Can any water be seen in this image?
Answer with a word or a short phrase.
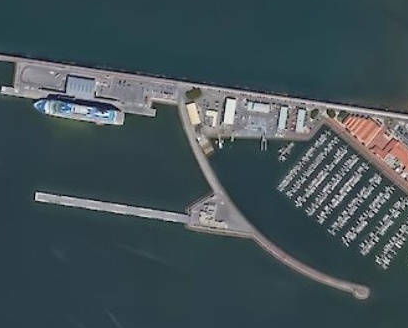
Yes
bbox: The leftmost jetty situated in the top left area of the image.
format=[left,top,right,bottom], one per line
[0,63,181,117]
